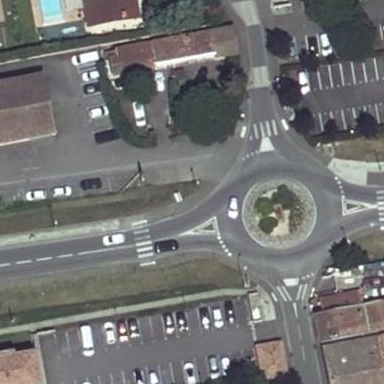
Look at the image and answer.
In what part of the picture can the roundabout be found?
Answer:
right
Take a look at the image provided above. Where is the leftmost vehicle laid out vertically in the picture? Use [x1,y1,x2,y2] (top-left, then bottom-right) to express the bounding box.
[80,325,95,356]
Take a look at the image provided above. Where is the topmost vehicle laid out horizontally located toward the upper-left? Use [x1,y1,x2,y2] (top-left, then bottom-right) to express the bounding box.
[70,51,100,66]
